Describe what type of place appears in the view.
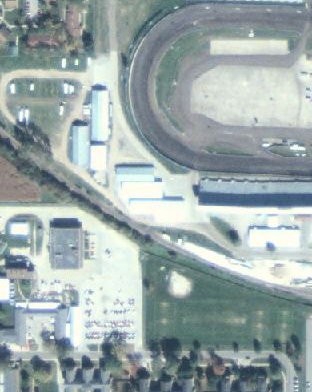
sports ground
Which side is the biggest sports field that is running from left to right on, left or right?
right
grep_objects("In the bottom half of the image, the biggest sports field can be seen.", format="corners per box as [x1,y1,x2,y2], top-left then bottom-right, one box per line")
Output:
[143,262,306,351]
